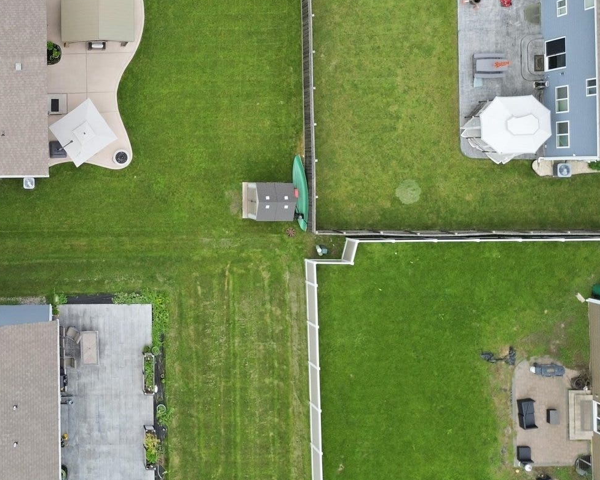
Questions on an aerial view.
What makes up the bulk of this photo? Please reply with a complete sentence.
What you mostly see from above here is grass.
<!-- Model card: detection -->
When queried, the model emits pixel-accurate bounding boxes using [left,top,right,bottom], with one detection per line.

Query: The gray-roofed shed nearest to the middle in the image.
[242,183,297,220]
